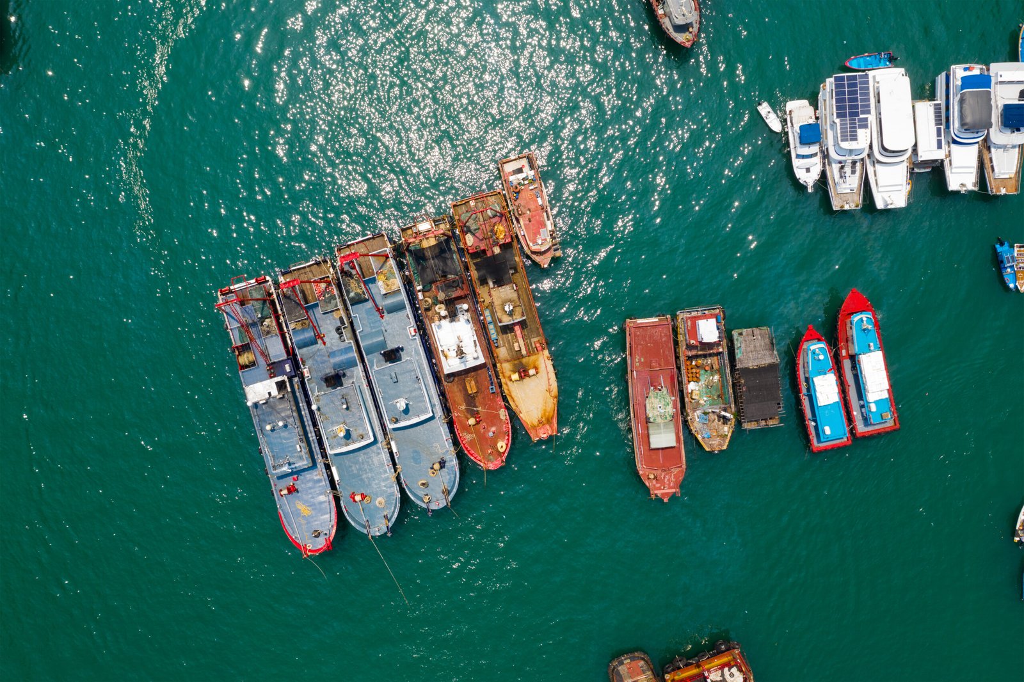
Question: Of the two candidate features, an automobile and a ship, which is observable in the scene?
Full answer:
The image shows a ship.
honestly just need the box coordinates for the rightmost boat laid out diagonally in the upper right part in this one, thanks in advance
[757,98,782,133]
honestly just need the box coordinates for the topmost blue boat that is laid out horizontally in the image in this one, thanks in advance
[843,51,900,70]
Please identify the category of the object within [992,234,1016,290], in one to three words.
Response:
boat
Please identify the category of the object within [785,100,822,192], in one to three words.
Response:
boat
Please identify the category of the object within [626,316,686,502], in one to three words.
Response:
ship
